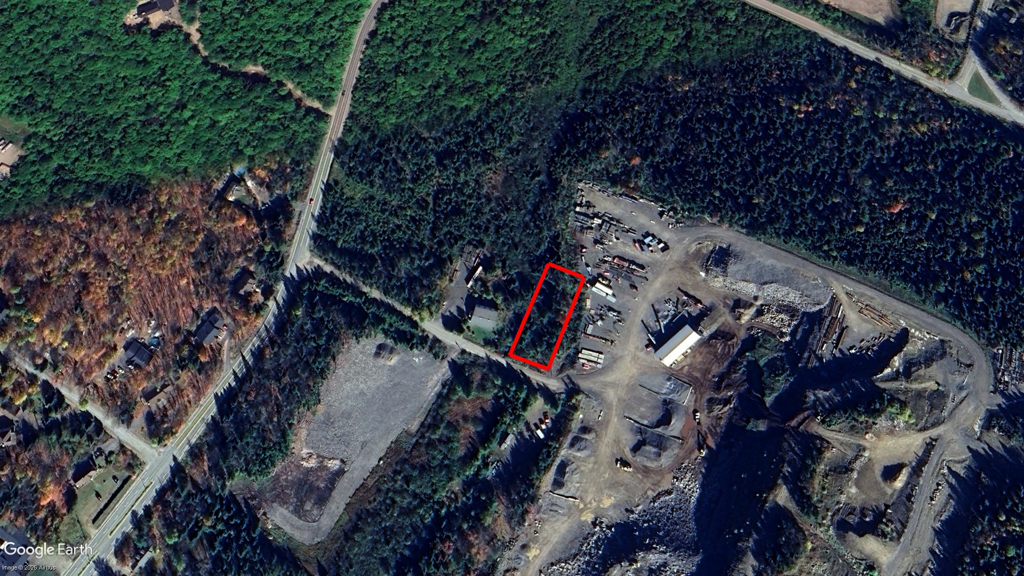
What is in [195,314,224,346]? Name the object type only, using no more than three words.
house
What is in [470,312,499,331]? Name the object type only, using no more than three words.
house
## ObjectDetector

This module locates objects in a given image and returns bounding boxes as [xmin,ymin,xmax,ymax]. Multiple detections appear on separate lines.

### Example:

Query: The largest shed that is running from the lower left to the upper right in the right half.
[656,325,702,367]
